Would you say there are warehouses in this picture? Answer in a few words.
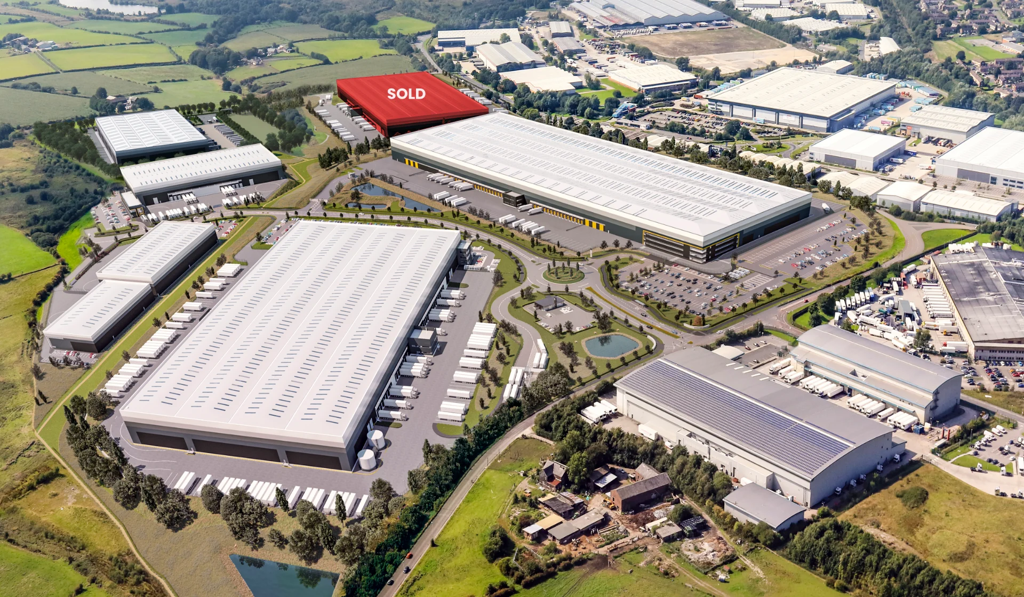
Yes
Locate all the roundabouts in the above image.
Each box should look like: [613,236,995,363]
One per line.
[528,260,600,290]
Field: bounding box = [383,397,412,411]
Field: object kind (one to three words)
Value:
vehicle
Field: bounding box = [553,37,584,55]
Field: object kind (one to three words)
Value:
shed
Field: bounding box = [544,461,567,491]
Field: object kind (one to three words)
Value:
house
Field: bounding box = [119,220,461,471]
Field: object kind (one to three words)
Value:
warehouse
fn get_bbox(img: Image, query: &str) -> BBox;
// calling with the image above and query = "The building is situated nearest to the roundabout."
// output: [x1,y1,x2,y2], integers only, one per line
[532,291,566,313]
